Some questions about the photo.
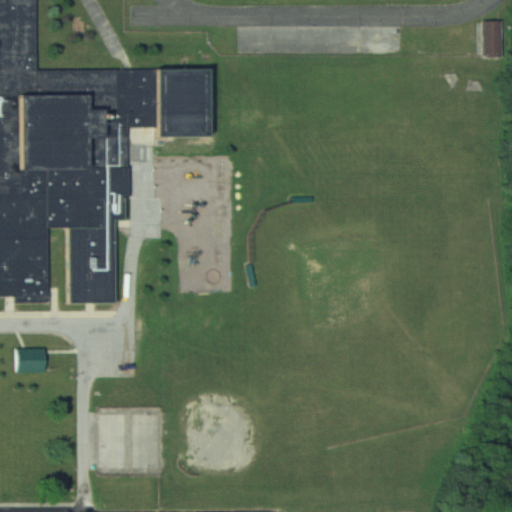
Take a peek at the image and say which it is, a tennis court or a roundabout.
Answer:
tennis court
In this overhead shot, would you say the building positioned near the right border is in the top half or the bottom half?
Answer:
top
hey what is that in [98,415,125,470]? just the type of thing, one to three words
tennis court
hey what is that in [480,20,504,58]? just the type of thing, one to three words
building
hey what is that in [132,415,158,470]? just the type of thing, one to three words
tennis court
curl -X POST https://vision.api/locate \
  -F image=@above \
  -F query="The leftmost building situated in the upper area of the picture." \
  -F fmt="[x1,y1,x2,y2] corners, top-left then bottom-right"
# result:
[0,0,212,304]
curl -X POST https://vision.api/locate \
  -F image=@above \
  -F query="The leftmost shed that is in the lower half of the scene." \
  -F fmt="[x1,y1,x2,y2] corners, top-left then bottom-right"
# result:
[14,348,49,372]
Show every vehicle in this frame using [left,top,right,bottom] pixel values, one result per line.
[120,274,129,303]
[118,364,134,370]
